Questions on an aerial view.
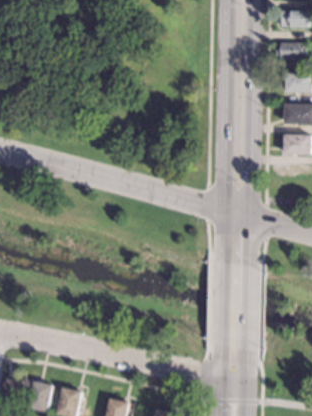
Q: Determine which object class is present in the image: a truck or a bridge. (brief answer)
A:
bridge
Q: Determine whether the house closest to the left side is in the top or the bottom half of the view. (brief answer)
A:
bottom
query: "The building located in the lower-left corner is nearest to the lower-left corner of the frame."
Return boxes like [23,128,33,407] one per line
[31,382,55,412]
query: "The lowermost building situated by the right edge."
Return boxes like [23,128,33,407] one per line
[284,134,312,154]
